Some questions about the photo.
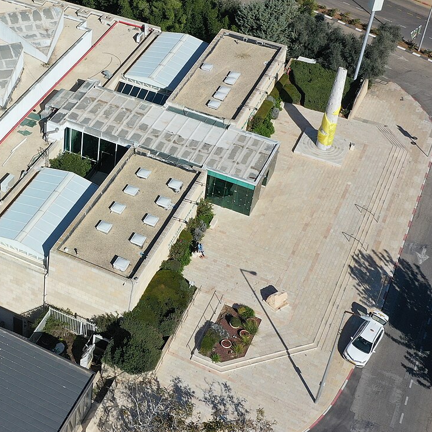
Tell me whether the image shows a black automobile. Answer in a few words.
No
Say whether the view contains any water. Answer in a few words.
No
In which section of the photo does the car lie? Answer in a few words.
bottom right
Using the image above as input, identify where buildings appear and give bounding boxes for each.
[0,326,95,432]
[0,0,293,339]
